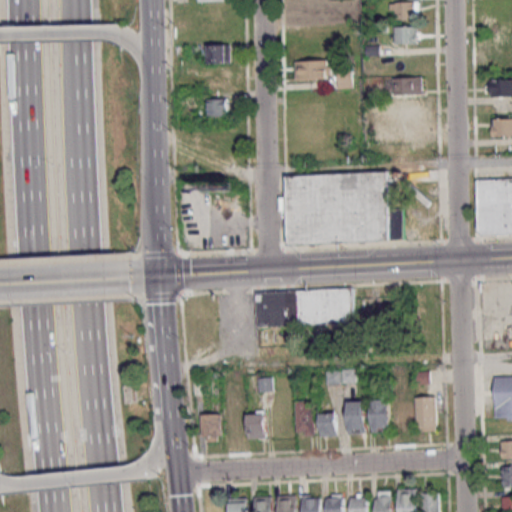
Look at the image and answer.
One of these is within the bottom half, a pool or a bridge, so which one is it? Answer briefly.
bridge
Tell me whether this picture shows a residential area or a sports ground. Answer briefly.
residential area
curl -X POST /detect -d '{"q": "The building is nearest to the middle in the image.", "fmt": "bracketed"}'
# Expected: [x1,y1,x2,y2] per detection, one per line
[256,290,298,328]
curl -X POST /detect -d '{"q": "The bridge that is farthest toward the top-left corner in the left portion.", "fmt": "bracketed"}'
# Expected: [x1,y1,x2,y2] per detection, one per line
[0,24,142,70]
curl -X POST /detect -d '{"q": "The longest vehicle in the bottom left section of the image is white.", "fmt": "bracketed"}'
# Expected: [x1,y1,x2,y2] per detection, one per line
[26,392,41,452]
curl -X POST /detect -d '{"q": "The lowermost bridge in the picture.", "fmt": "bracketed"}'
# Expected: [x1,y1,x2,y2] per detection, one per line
[0,417,167,494]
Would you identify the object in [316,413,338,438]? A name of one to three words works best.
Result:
house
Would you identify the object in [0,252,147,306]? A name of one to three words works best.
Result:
bridge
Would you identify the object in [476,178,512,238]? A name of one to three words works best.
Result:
building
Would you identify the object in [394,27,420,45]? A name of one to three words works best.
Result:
house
